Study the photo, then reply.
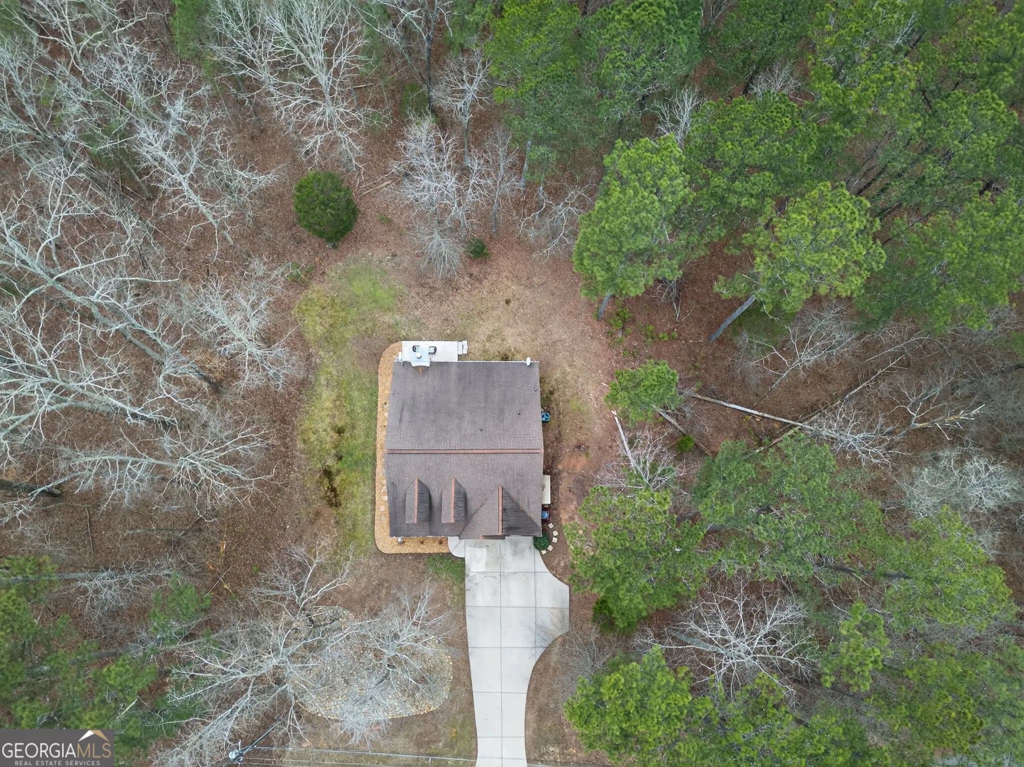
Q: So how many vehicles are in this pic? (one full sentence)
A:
There are no vehicles in the image.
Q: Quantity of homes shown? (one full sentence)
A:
In total, 1 home can be seen.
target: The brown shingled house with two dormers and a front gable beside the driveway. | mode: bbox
[386,351,543,540]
